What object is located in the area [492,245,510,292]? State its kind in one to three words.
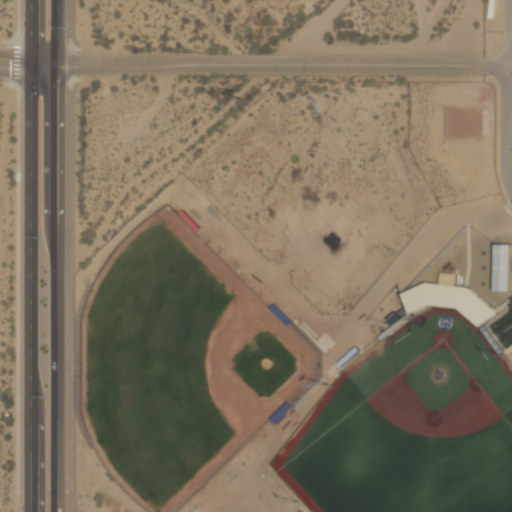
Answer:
building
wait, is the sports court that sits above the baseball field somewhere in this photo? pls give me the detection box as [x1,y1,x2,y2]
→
[442,105,483,140]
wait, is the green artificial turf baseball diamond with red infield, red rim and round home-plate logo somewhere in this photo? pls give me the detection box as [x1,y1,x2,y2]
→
[272,307,512,512]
